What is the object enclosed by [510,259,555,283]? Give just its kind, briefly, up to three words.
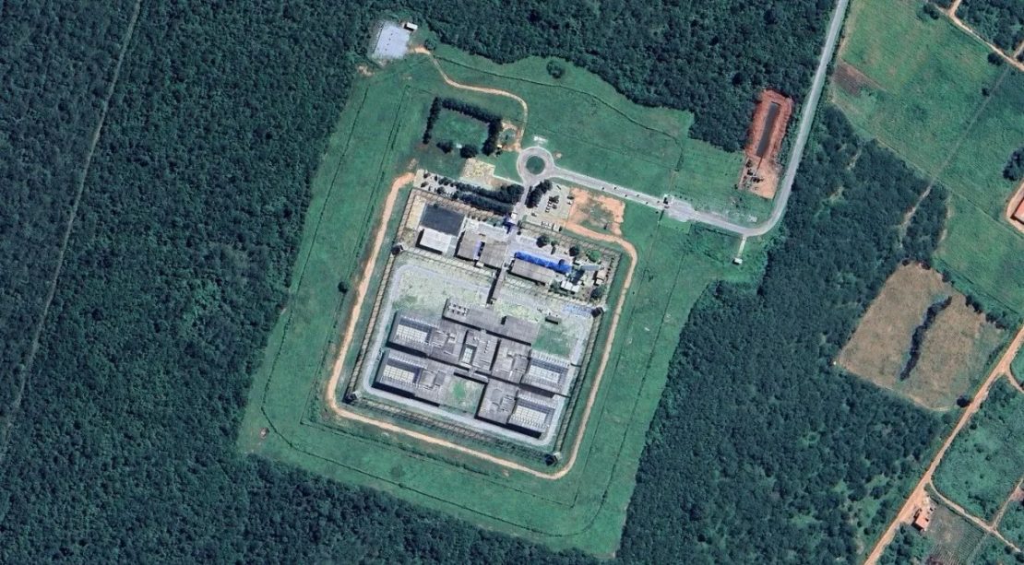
building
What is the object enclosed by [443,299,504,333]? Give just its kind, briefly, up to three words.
building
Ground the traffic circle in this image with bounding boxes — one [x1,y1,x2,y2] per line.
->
[517,147,554,182]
